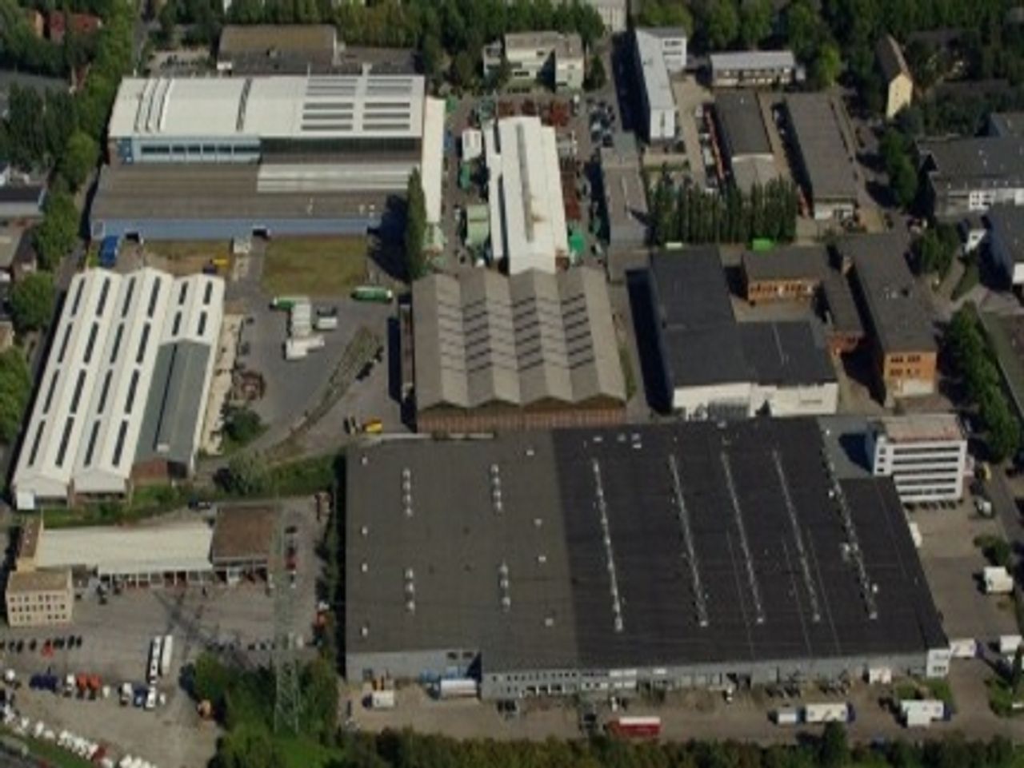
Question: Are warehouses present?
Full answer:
Yes, the image includes a warehouse.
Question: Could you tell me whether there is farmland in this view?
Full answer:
No, farmland can't be seen anywhere here.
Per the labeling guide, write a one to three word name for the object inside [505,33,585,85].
house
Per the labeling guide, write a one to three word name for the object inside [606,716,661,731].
vehicle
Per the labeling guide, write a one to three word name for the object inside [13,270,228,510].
building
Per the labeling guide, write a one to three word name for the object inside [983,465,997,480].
vehicle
